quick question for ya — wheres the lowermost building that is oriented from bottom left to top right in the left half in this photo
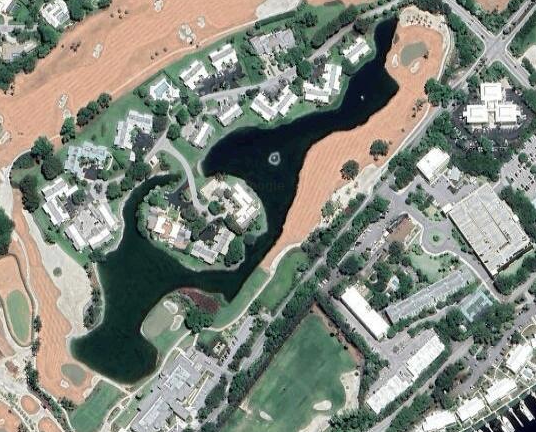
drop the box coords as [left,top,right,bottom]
[129,346,219,432]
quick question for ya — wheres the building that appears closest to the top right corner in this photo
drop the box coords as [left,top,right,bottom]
[463,83,519,131]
